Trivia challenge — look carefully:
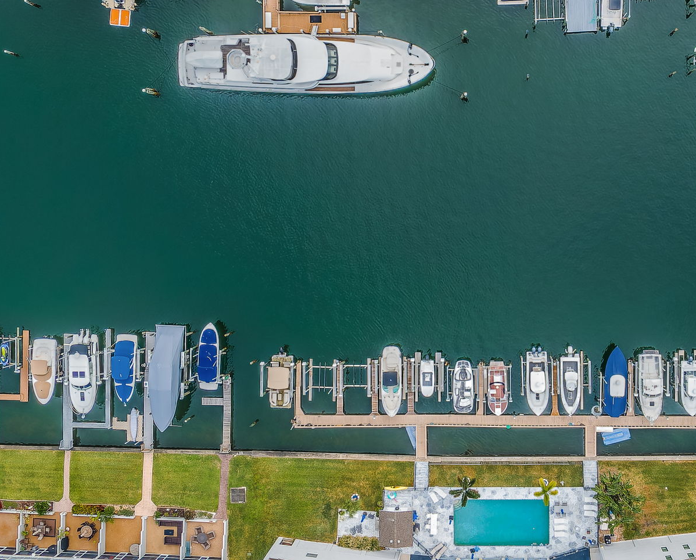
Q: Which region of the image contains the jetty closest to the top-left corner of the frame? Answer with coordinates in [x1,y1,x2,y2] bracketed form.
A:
[261,0,357,34]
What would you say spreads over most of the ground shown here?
water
